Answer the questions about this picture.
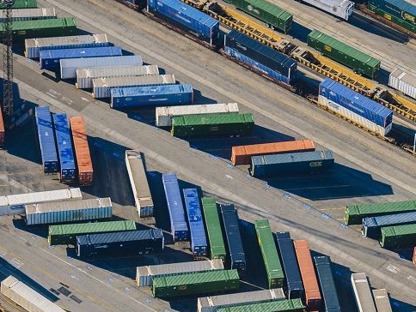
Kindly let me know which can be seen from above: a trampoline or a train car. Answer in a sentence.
Of the two, only a train car appears.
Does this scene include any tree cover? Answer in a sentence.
No, no tree cover is visible.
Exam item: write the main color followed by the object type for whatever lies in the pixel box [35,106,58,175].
blue trailer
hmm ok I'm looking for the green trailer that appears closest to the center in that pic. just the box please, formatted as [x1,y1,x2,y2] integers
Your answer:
[171,113,255,139]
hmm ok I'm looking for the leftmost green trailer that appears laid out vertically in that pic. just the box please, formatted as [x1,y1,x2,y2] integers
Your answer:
[201,196,227,268]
